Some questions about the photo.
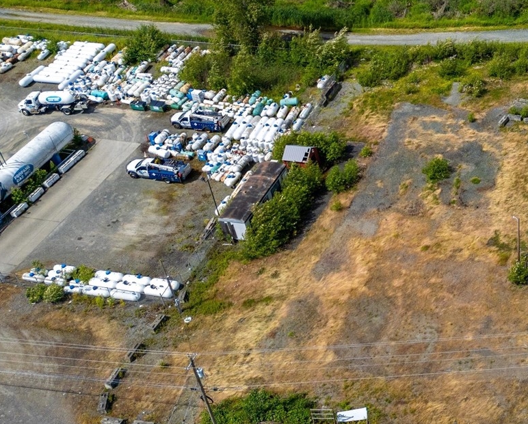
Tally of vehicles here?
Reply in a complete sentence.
The number of vehicles here is 3.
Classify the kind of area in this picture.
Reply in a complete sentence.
The picture captures an industrial area.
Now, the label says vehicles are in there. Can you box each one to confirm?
[165,104,232,127]
[120,154,195,179]
[12,88,89,114]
